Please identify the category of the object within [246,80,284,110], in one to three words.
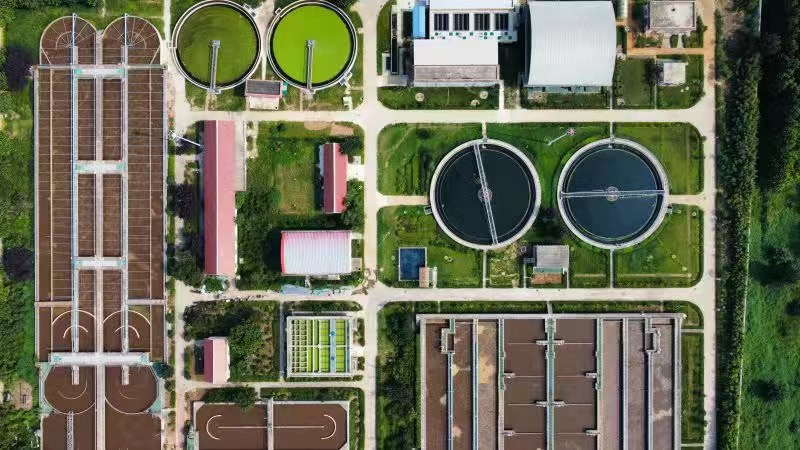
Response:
building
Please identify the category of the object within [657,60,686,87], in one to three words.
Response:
shed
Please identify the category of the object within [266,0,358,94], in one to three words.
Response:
storage tank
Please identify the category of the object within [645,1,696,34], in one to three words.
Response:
house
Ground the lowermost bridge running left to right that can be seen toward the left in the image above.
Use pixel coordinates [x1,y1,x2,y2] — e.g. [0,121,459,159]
[47,352,150,365]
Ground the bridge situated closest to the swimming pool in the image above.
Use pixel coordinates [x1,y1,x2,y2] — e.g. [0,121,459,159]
[473,141,498,246]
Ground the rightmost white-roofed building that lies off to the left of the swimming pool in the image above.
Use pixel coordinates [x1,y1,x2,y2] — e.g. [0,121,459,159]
[280,231,351,280]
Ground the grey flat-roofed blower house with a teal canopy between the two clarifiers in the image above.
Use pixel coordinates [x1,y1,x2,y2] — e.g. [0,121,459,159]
[521,245,569,272]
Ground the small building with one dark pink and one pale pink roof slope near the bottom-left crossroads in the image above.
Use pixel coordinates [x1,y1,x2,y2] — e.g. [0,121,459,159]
[204,336,231,386]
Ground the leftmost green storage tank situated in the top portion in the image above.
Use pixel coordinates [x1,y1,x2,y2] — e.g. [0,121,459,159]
[167,0,263,94]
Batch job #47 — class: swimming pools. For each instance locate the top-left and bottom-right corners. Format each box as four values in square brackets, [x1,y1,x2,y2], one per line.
[398,247,427,281]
